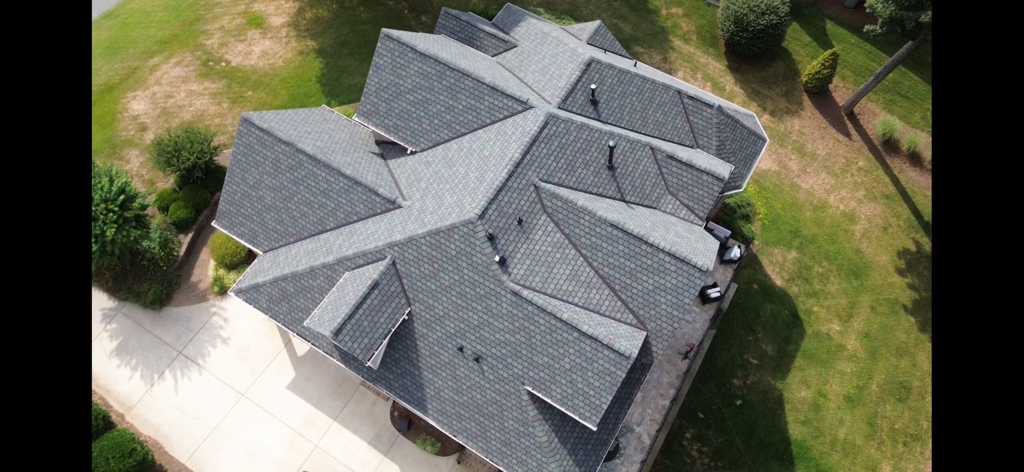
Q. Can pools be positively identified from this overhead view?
No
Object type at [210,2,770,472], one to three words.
house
